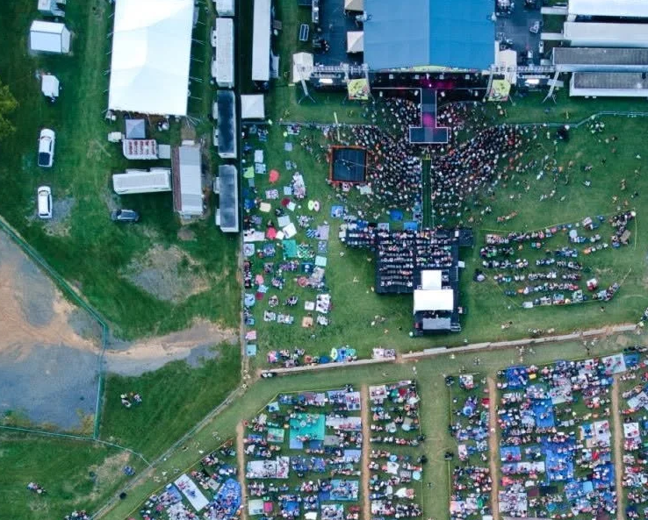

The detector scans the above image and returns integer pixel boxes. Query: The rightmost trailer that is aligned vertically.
[251,0,278,87]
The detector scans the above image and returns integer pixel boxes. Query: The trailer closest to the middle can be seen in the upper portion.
[216,166,241,235]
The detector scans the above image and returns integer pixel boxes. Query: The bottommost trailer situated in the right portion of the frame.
[571,75,648,102]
